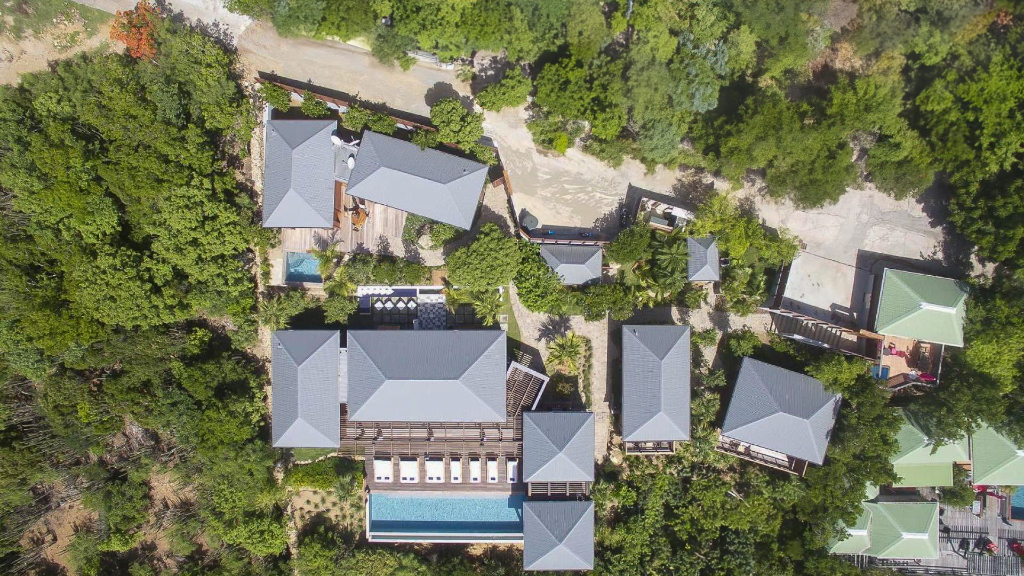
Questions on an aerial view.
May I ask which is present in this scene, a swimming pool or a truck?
swimming pool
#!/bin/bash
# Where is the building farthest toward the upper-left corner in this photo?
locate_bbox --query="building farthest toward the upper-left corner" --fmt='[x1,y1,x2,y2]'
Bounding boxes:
[262,119,341,228]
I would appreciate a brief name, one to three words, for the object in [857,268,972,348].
building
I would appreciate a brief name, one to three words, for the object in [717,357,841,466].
house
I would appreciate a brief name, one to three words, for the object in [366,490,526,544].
swimming pool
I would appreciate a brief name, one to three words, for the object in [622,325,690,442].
house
